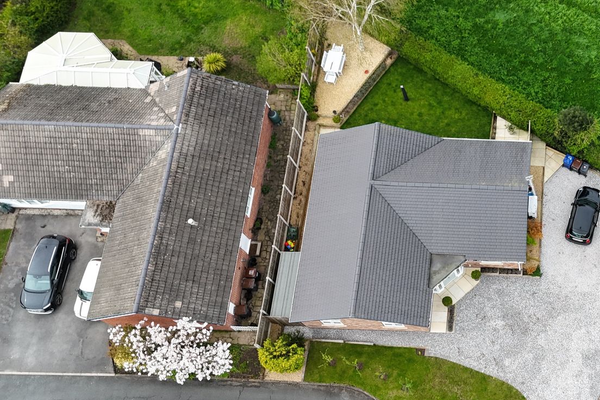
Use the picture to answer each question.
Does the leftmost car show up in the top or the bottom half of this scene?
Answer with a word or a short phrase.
bottom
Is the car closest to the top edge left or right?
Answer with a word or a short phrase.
right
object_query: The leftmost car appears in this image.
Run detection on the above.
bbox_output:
[23,236,81,315]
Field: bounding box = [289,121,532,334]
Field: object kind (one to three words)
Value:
house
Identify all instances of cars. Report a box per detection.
[23,236,81,315]
[69,256,101,321]
[564,187,600,249]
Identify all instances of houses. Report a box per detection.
[0,67,275,332]
[289,121,532,334]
